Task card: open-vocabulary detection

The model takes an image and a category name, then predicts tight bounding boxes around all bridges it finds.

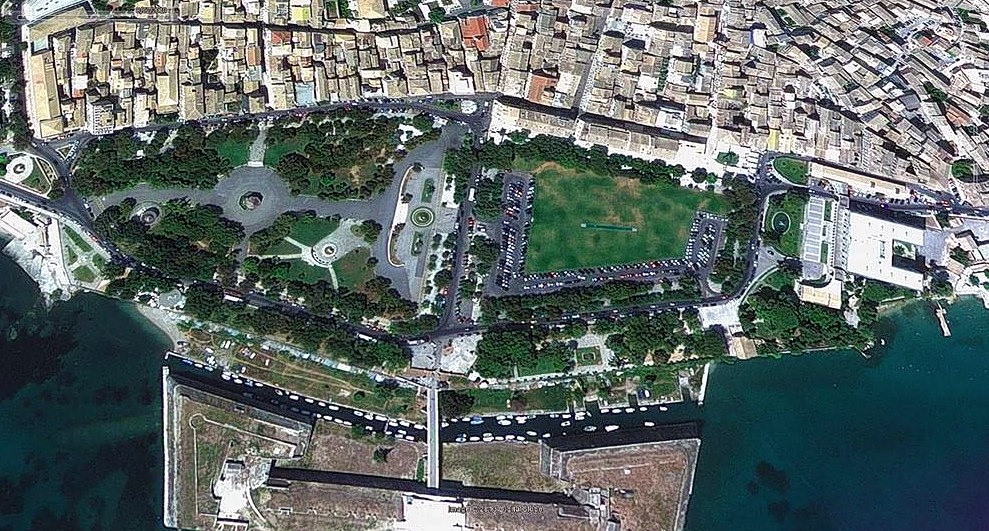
[425,375,440,489]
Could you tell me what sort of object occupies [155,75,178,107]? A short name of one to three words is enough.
house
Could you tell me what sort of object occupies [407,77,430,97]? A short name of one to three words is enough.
house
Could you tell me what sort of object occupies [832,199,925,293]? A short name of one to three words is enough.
building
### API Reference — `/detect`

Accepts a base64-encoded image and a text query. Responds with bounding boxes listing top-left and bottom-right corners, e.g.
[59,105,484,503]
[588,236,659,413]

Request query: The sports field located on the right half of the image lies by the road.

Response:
[525,157,730,273]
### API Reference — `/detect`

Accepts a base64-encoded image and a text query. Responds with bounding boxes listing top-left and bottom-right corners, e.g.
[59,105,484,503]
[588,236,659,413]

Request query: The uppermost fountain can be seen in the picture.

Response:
[411,206,433,228]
